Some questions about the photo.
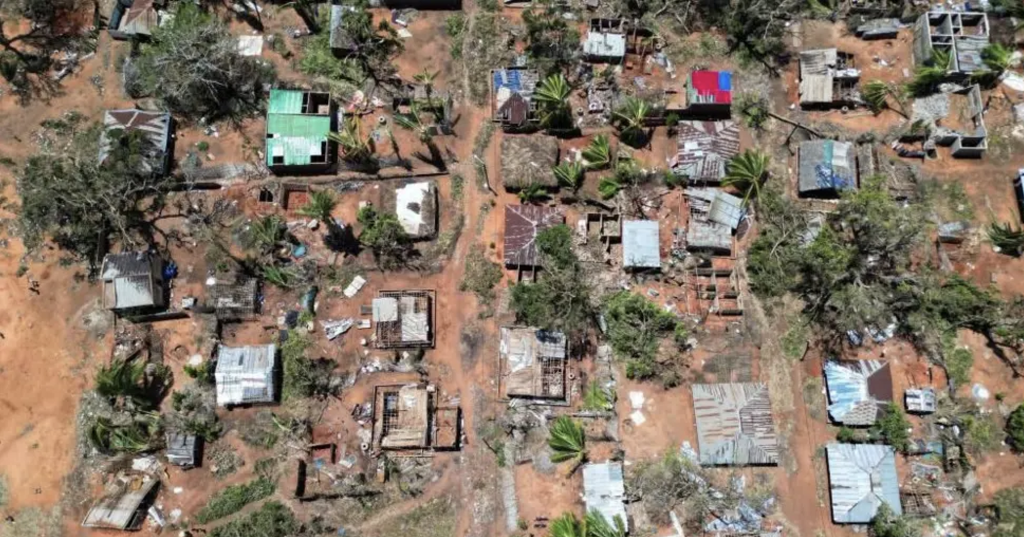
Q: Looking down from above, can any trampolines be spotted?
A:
No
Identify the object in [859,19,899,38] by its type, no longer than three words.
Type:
building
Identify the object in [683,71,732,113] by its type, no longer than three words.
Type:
house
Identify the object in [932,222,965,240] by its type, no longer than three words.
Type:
shed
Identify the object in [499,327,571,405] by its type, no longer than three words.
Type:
house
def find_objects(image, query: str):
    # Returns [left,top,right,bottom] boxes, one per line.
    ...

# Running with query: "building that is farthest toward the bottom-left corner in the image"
[84,477,160,527]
